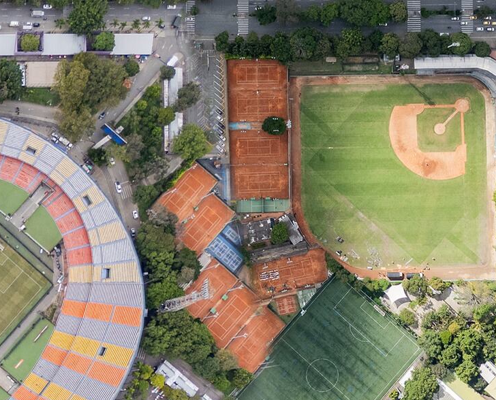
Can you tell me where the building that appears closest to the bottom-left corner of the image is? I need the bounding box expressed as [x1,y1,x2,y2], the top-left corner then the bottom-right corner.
[155,359,200,397]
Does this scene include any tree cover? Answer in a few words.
Yes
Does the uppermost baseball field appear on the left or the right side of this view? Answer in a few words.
right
